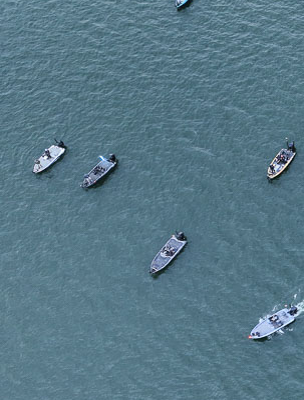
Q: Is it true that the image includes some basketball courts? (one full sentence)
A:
No, there is no basketball court in the image.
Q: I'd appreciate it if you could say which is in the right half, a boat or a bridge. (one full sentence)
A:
You can see a boat in the right half.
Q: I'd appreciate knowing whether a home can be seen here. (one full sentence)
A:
No, no home can be seen from above.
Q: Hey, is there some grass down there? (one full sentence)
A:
No, there's no grass in this view.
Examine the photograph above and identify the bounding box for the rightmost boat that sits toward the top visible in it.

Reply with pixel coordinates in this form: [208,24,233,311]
[267,139,296,180]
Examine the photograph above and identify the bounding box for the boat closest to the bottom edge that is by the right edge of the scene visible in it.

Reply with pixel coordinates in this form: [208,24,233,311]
[251,305,296,339]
